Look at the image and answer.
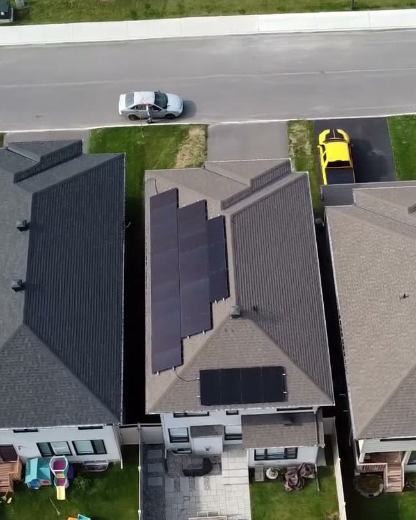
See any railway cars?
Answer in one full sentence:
No, no railway car is visible in the view.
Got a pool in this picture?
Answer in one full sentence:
No, I can see no pool in this picture.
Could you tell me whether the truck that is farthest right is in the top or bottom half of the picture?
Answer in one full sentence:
The truck that is farthest right sits in the top half of the picture.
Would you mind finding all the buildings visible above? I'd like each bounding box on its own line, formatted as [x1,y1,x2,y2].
[0,140,127,471]
[144,158,334,470]
[321,182,416,473]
